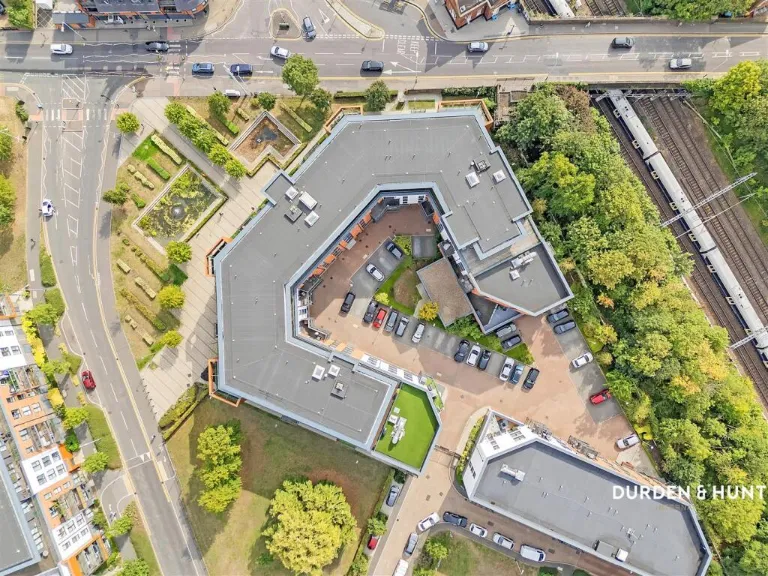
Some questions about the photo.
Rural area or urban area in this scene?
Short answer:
urban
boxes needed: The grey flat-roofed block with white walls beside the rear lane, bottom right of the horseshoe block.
[464,409,711,576]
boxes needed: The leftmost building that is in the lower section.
[0,284,122,576]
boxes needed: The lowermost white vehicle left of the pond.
[40,197,54,219]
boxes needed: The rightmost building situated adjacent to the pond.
[206,100,574,476]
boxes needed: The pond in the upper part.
[132,165,226,252]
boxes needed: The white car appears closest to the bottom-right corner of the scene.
[616,434,640,449]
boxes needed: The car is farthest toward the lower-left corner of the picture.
[80,370,97,392]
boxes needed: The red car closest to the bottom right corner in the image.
[589,388,612,405]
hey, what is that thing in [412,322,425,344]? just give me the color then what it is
white vehicle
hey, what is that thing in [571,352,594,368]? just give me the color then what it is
white car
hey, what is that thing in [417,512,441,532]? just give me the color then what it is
white car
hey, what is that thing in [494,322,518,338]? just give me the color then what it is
gray car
